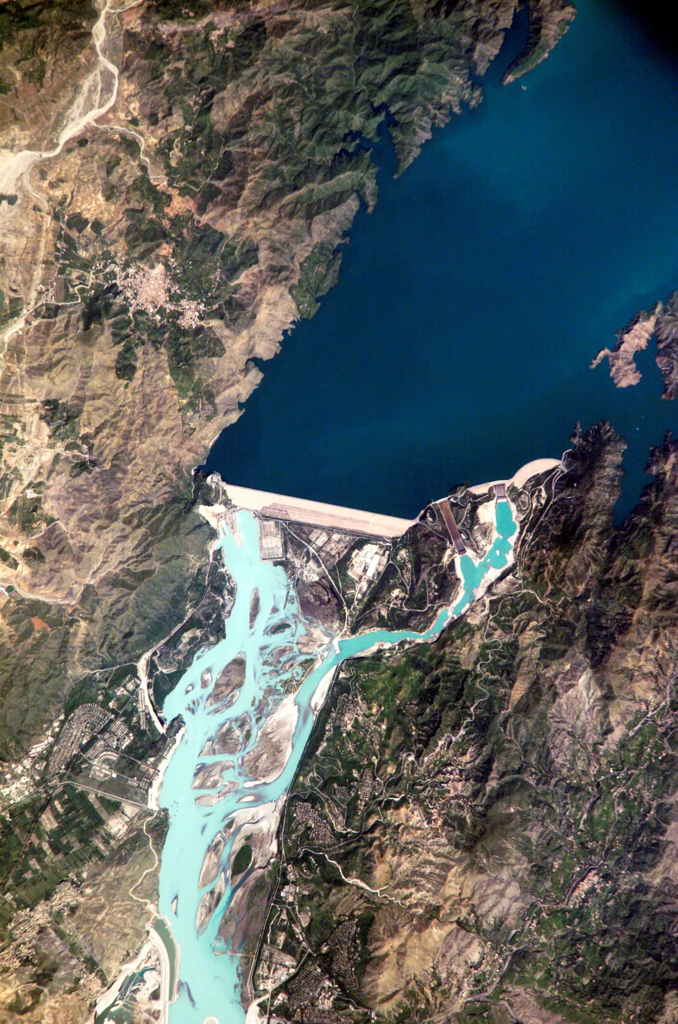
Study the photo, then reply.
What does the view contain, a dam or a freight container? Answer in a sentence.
Of the two, only a dam appears.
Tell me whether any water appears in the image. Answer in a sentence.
Yes, there is water in the image.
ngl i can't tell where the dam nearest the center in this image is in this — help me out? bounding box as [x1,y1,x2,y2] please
[224,481,417,539]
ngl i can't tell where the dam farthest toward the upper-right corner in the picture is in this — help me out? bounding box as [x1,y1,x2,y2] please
[510,456,562,486]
